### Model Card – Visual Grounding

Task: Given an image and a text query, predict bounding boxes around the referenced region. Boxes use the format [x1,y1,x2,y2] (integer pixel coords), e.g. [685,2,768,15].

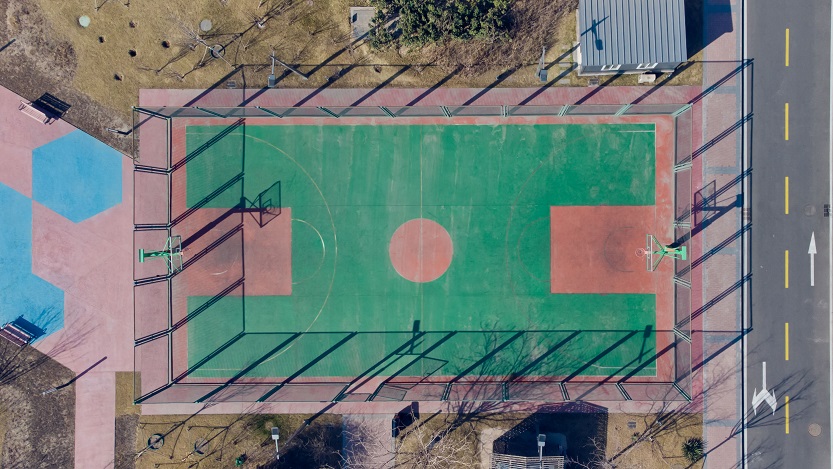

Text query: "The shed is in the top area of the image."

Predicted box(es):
[570,0,688,80]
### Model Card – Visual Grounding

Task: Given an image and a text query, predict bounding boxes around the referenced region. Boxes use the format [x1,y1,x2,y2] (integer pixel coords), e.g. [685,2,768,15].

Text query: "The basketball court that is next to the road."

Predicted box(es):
[171,116,674,384]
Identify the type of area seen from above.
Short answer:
sports ground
